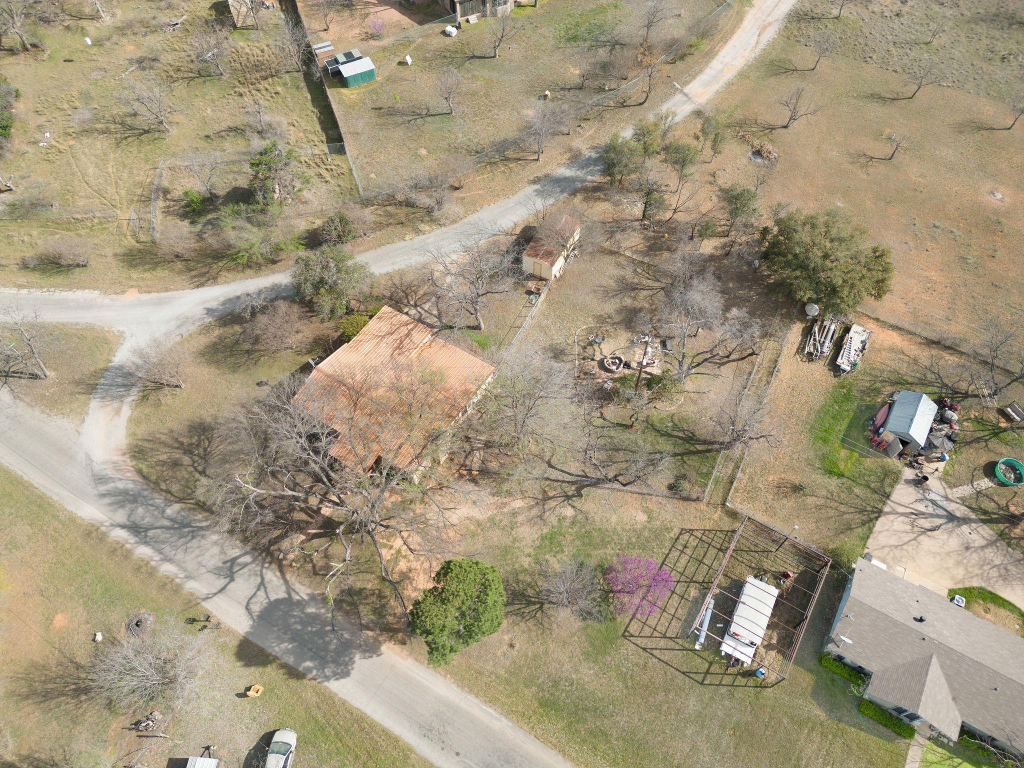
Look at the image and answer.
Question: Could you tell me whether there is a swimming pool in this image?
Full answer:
No, I can see no swimming pool in this picture.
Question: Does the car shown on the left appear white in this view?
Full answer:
Yes, white is the color of the car shown on the left.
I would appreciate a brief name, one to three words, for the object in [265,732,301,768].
car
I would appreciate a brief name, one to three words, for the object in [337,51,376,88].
shed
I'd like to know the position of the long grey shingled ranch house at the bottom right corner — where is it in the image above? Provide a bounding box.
[821,554,1024,760]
